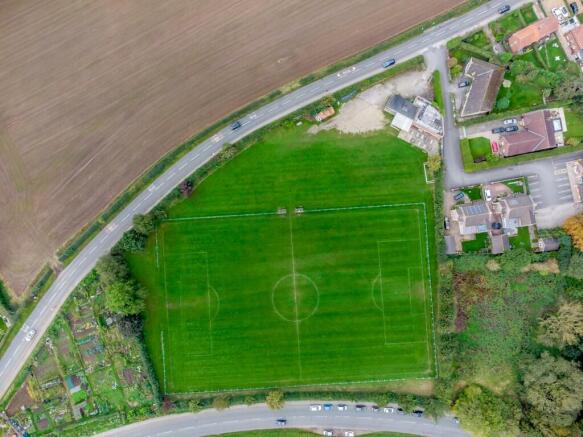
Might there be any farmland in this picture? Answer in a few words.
Yes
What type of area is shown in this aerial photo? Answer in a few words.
sports ground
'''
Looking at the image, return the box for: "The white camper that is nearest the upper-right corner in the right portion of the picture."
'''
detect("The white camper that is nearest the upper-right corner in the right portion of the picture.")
[550,7,568,19]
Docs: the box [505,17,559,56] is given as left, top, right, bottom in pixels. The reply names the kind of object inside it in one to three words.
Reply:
house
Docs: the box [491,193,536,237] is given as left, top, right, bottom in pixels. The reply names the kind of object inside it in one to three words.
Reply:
house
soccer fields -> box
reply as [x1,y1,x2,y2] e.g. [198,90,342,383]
[126,122,440,402]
